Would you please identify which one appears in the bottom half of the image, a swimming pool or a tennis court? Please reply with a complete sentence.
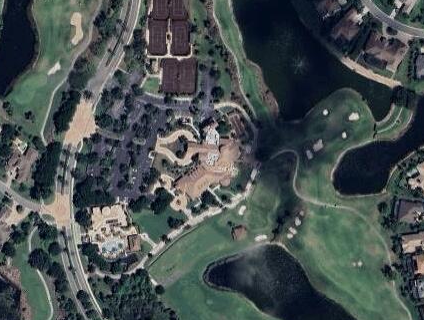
There is a swimming pool in the bottom half of the image.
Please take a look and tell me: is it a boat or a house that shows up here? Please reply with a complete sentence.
There is a house in the scene.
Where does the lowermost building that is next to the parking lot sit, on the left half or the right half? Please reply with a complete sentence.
You can find the lowermost building that is next to the parking lot on the left side of the picture.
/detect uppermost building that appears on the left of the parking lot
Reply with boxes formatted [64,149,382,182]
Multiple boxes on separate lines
[0,148,37,182]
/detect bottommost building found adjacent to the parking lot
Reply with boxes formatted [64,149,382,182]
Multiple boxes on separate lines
[92,205,128,227]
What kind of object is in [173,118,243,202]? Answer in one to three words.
building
